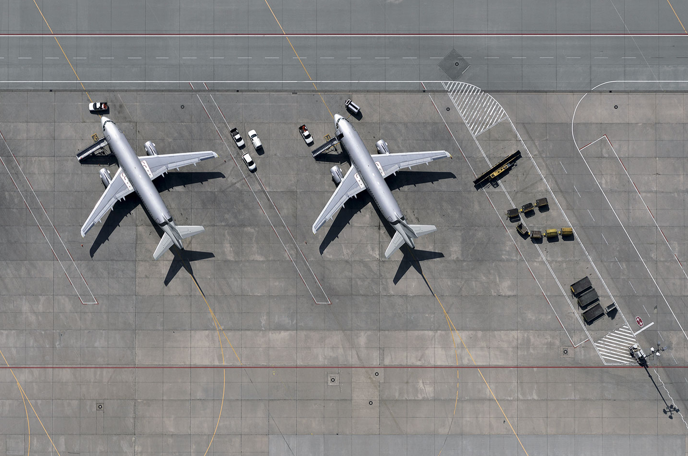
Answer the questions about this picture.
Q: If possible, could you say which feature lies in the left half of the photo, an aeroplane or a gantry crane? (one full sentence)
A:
Looking in the left half of the photo, you will find an aeroplane.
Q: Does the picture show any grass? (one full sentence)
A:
No, the picture contains no grass.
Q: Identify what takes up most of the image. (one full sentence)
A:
The scene is dominated by paved ground.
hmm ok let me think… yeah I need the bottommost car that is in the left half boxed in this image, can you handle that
[242,153,257,172]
